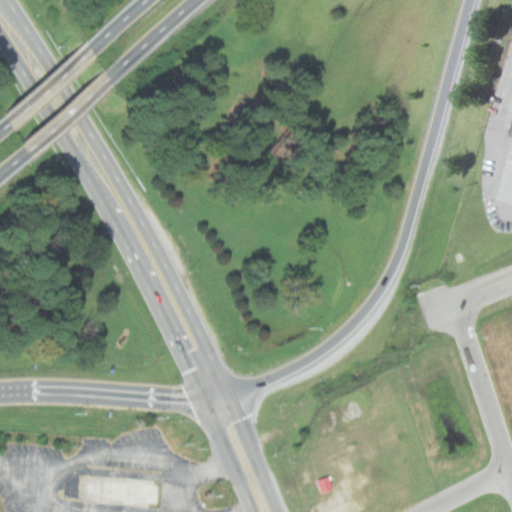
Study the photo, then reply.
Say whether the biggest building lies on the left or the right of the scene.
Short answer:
left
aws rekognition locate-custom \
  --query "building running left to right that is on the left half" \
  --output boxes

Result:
[76,476,158,508]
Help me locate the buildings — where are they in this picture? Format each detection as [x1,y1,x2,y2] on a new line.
[316,477,332,494]
[76,476,158,508]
